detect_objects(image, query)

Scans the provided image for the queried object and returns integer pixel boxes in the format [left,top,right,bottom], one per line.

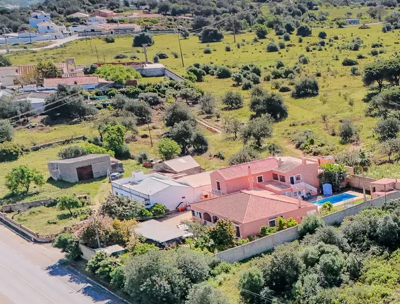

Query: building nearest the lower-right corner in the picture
[367,174,400,197]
